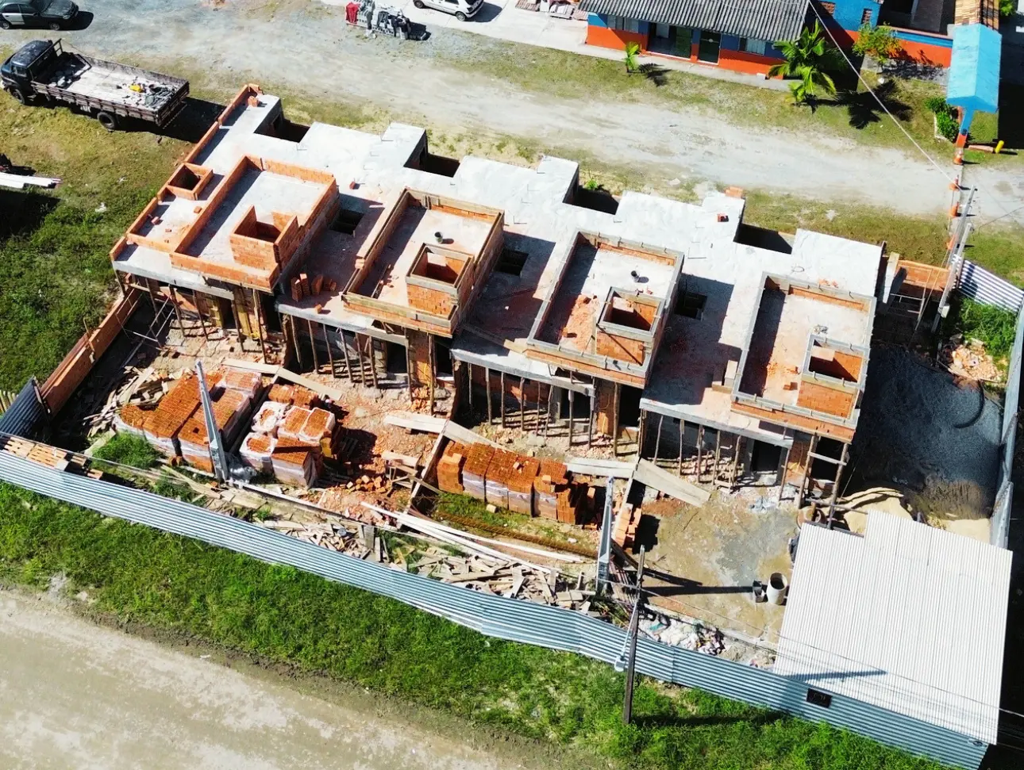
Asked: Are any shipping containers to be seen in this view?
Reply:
No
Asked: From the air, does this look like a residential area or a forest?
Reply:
residential area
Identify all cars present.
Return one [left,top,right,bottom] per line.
[416,0,487,21]
[0,0,79,30]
